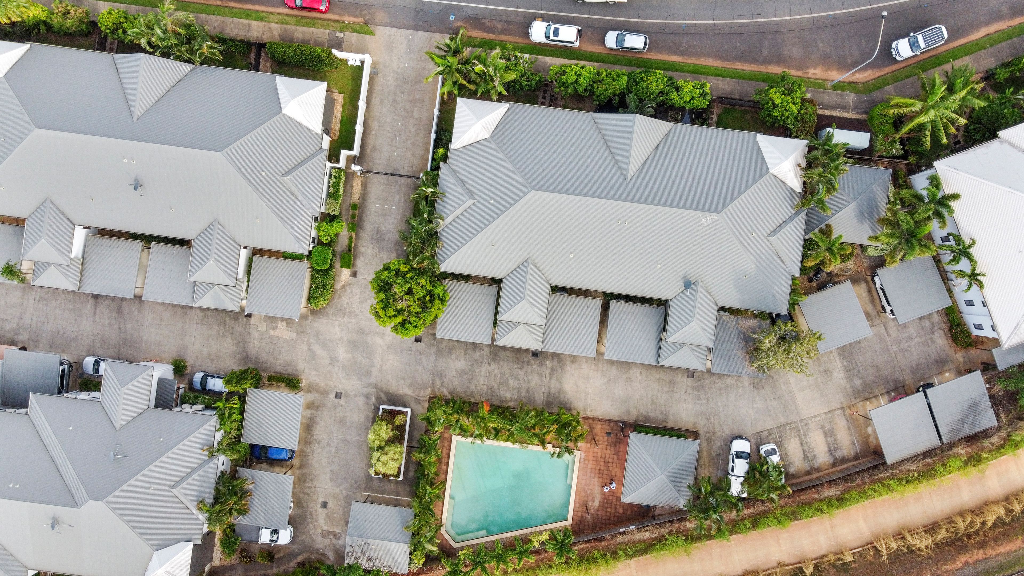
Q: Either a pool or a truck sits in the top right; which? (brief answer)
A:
truck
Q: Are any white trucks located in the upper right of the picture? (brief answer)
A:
Yes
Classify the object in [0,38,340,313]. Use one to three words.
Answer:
building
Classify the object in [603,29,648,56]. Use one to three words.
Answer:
car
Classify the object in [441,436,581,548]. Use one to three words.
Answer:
swimming pool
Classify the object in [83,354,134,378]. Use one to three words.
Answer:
car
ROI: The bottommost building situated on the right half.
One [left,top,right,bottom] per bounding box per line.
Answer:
[620,431,701,511]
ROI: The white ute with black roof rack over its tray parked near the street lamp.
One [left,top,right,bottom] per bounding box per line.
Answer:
[887,22,950,63]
